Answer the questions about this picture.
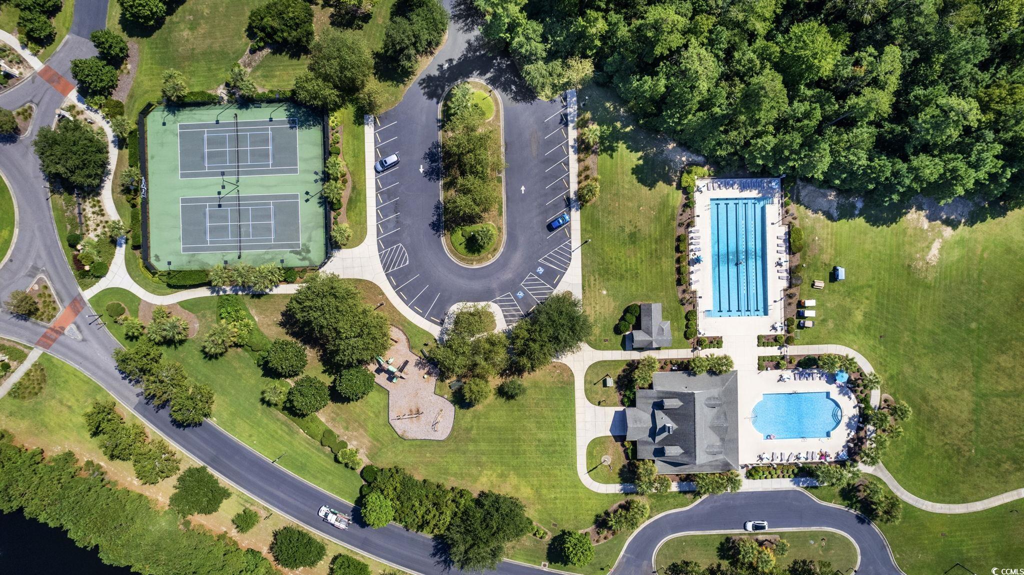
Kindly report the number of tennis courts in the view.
2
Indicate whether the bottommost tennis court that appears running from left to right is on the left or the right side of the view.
left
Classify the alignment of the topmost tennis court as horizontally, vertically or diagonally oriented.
horizontally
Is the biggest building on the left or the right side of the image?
right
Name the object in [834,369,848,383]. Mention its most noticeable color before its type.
blue umbrella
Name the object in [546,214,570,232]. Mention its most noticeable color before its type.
blue car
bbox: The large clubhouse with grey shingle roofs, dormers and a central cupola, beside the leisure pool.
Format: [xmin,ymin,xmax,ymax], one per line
[624,371,738,474]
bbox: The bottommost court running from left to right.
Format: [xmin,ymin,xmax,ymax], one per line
[180,193,301,253]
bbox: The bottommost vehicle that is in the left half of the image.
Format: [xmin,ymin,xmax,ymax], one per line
[319,506,352,532]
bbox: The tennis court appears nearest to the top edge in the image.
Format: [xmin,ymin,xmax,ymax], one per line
[178,118,299,179]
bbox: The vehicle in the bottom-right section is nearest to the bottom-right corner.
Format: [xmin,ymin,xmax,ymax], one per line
[743,520,768,532]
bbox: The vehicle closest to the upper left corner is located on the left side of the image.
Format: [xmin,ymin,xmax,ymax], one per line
[374,154,399,172]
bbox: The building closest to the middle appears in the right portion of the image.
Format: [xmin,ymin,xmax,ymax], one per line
[625,304,672,348]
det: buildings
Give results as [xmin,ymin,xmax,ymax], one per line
[625,304,672,348]
[624,371,738,474]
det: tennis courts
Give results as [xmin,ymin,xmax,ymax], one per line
[178,118,299,179]
[180,193,301,253]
